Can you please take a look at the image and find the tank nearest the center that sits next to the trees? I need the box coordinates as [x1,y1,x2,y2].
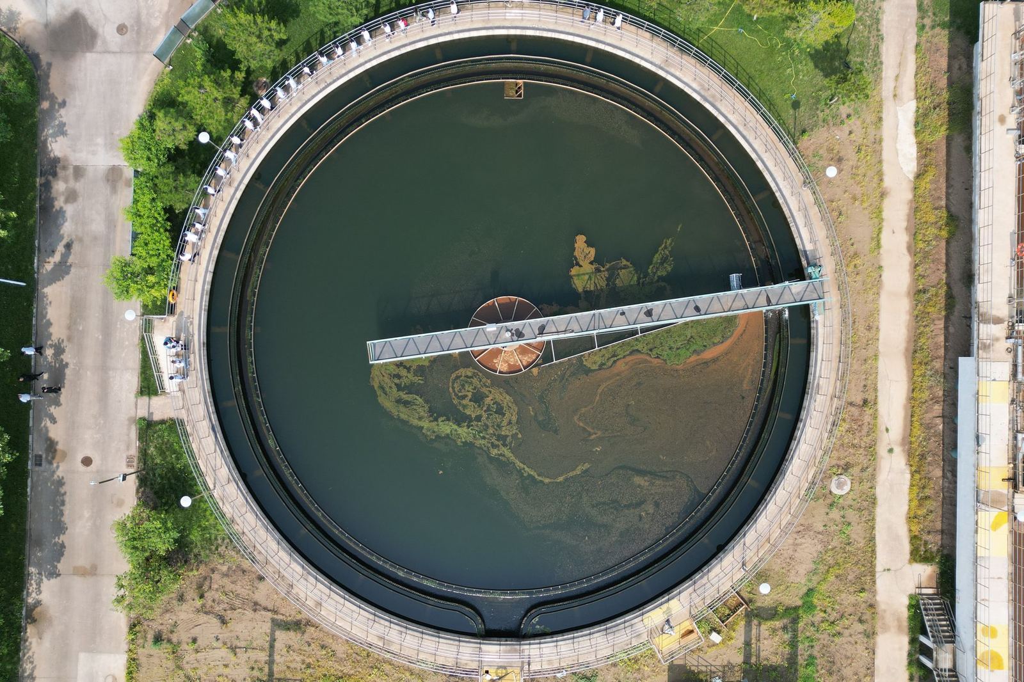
[178,6,840,667]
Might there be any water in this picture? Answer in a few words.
Yes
